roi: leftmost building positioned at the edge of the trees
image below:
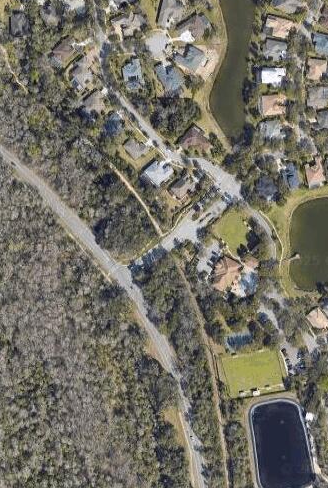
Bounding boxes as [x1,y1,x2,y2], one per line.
[10,13,29,36]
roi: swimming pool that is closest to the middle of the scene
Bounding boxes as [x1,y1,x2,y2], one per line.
[234,269,258,298]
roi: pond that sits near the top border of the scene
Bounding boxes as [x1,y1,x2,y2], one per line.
[208,0,254,147]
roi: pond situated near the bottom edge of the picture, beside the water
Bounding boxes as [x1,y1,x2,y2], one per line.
[253,399,314,488]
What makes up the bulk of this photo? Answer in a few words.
trees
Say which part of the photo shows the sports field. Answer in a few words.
bottom right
